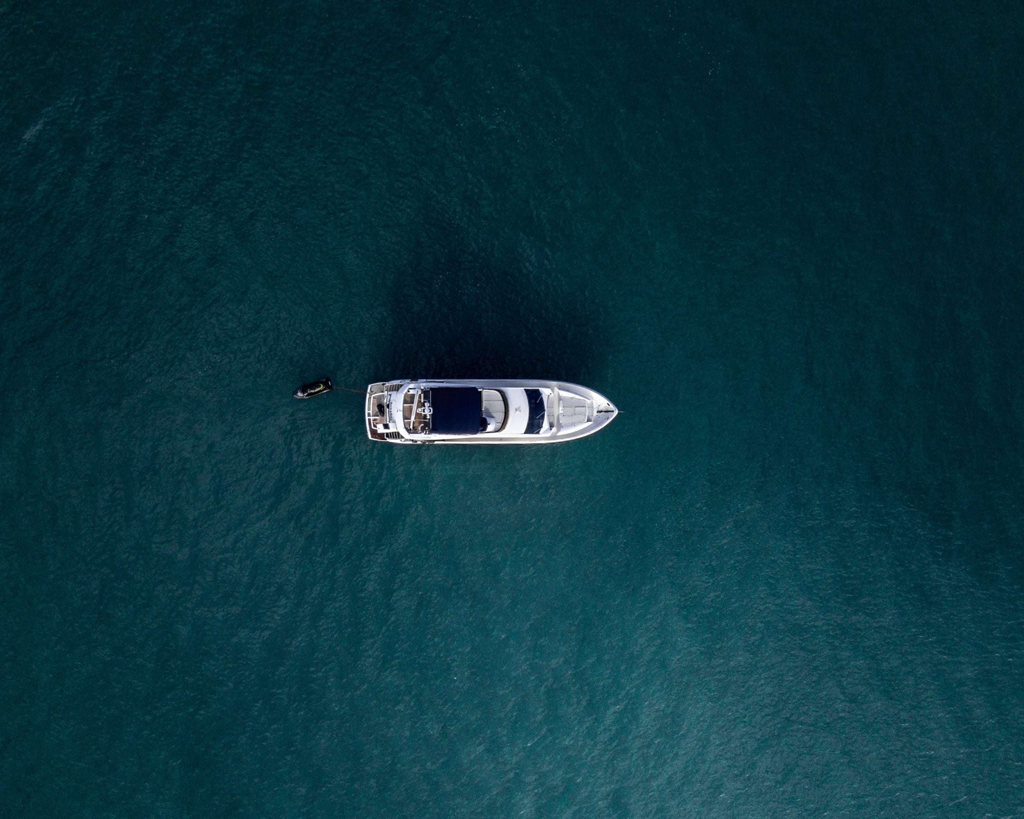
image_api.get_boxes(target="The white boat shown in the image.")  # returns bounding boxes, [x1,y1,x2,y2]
[365,379,626,444]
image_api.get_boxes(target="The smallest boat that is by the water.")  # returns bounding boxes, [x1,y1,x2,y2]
[292,378,331,398]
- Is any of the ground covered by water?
Yes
